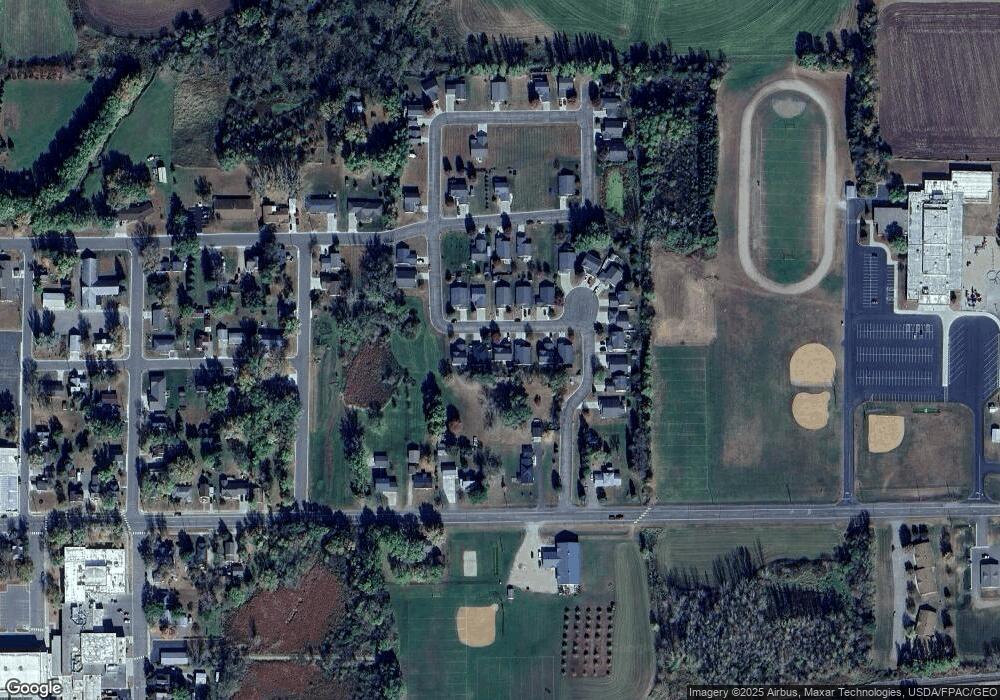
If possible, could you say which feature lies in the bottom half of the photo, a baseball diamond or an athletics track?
baseball diamond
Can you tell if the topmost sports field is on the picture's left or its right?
right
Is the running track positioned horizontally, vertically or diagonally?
vertically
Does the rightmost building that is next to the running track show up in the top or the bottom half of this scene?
top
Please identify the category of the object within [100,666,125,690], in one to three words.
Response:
building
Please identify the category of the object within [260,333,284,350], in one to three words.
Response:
house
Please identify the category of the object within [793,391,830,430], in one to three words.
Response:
baseball field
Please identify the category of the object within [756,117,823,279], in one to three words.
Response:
sports field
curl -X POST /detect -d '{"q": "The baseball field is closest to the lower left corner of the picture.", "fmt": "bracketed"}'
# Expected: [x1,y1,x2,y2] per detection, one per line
[457,600,504,647]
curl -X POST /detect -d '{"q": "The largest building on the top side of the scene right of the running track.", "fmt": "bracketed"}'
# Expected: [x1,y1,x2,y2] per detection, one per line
[874,172,991,306]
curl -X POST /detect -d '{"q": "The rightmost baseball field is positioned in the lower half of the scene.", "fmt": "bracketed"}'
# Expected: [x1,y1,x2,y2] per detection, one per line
[866,412,905,453]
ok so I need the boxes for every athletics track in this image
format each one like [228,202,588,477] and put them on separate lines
[738,81,846,294]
